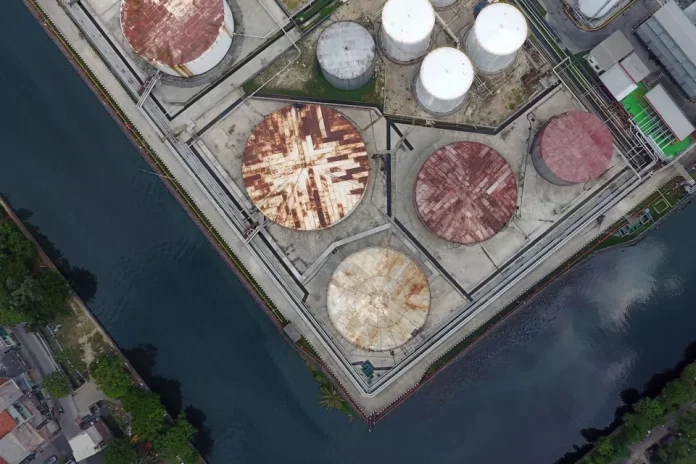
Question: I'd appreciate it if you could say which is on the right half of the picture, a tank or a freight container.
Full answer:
You can see a tank on the right half of the picture.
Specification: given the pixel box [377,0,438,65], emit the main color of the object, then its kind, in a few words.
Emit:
white storage tank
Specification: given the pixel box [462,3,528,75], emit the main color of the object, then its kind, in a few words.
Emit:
white storage tank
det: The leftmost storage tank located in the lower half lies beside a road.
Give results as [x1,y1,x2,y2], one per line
[328,245,431,351]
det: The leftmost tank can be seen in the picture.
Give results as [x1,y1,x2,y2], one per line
[120,0,243,85]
